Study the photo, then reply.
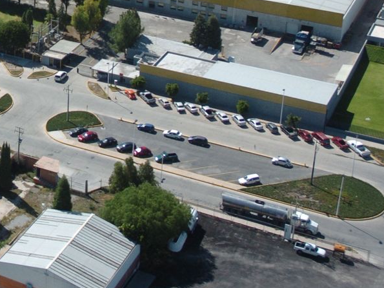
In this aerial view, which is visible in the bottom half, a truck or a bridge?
truck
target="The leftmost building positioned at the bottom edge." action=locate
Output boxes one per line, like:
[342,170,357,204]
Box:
[0,213,133,288]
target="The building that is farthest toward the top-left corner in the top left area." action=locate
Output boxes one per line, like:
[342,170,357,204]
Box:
[40,49,70,70]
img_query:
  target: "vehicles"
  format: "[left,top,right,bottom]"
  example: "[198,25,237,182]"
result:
[252,27,263,40]
[297,129,313,139]
[280,125,298,136]
[312,130,333,144]
[217,111,232,122]
[271,156,293,166]
[294,31,310,52]
[137,122,156,130]
[163,128,183,138]
[199,106,218,117]
[116,141,136,150]
[238,170,261,184]
[294,243,326,259]
[231,115,249,126]
[68,126,87,135]
[154,150,179,161]
[157,97,173,107]
[331,134,351,147]
[172,102,186,111]
[264,121,281,132]
[53,69,68,81]
[138,91,157,102]
[98,136,118,145]
[248,119,265,130]
[189,134,207,144]
[185,103,201,113]
[124,89,138,99]
[223,198,316,241]
[79,130,98,139]
[134,145,151,154]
